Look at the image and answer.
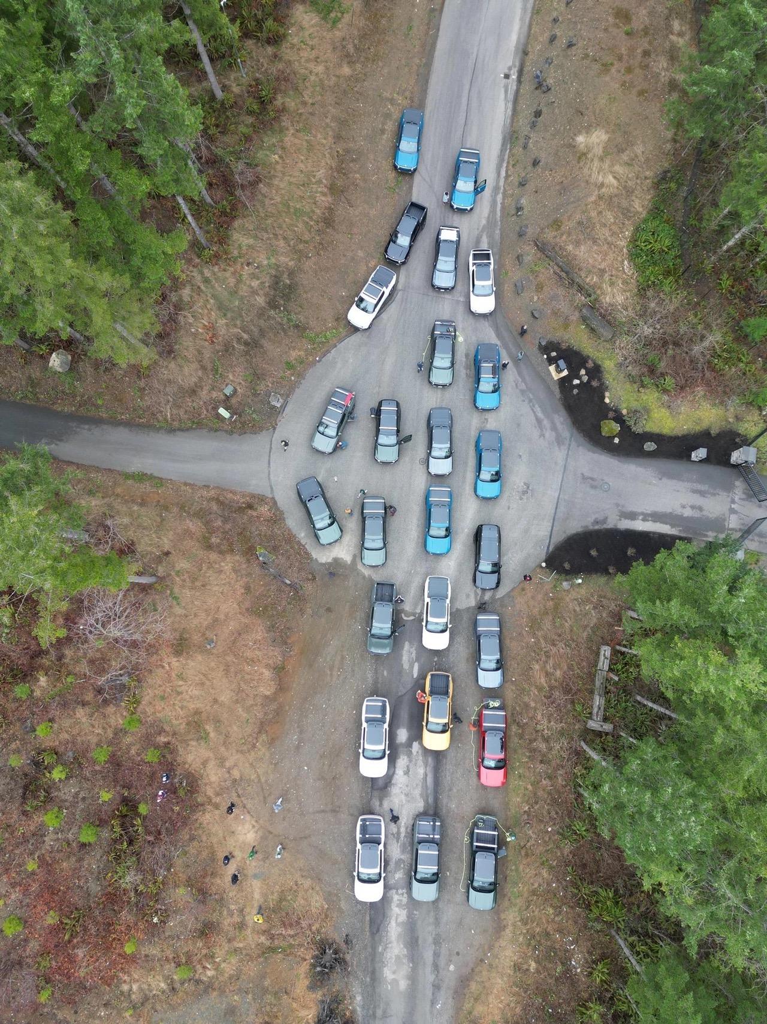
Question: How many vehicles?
25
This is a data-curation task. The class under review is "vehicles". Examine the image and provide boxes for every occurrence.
[474,613,507,688]
[427,319,458,388]
[313,385,354,456]
[421,576,453,650]
[421,672,454,751]
[472,523,504,591]
[352,815,386,900]
[423,484,455,556]
[452,148,493,213]
[358,697,391,777]
[364,580,411,655]
[477,701,511,788]
[298,475,340,548]
[358,495,389,567]
[473,429,505,500]
[409,815,443,901]
[432,226,461,292]
[466,819,501,912]
[372,399,415,464]
[350,265,397,331]
[473,343,504,411]
[468,249,498,315]
[395,109,423,172]
[425,406,456,476]
[387,201,427,267]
